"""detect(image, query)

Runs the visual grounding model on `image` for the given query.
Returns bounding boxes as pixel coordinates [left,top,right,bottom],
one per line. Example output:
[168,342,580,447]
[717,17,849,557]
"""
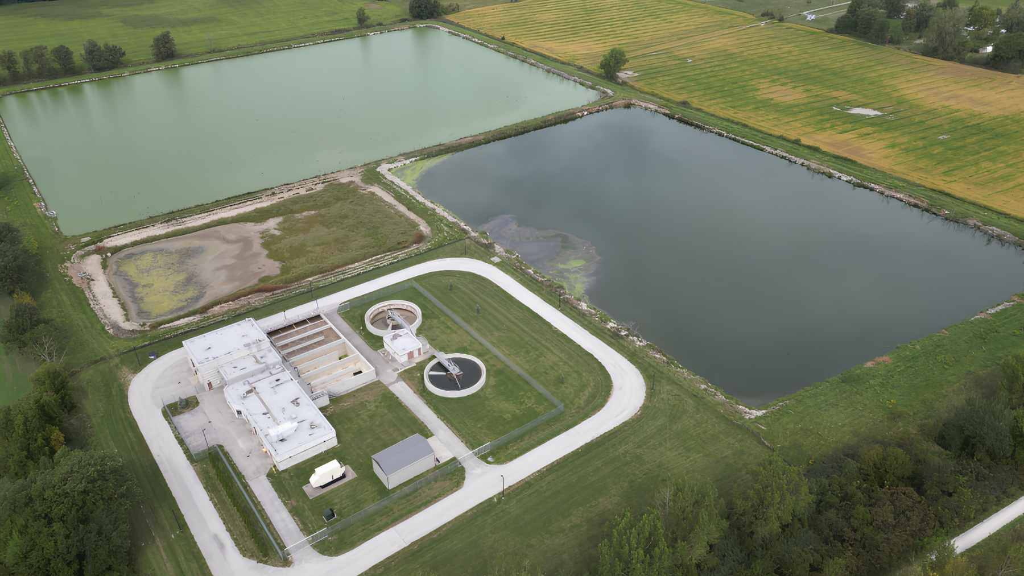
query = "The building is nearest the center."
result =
[381,327,423,364]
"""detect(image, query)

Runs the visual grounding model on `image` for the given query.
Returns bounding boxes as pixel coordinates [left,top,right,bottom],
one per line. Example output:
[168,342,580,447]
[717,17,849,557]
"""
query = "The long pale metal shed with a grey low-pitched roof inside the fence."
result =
[372,435,436,490]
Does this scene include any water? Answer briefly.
Yes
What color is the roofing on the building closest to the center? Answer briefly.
white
